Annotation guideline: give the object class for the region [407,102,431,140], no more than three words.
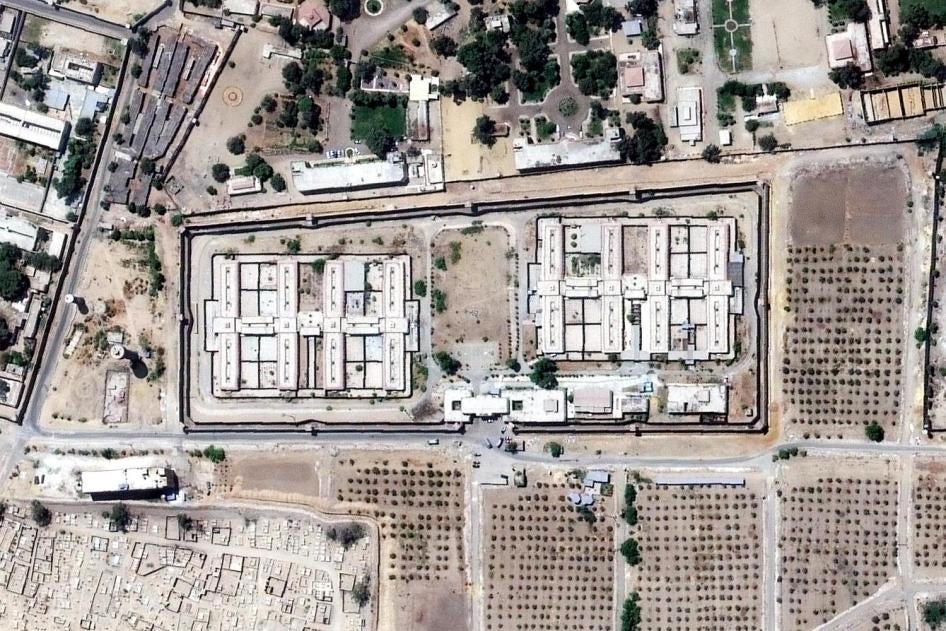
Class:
building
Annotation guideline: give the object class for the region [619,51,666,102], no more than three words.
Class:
house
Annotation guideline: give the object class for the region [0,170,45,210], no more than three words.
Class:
shed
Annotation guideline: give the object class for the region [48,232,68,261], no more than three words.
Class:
house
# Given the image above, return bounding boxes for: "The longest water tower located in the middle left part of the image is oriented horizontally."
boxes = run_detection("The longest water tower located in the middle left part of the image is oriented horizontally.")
[112,345,140,360]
